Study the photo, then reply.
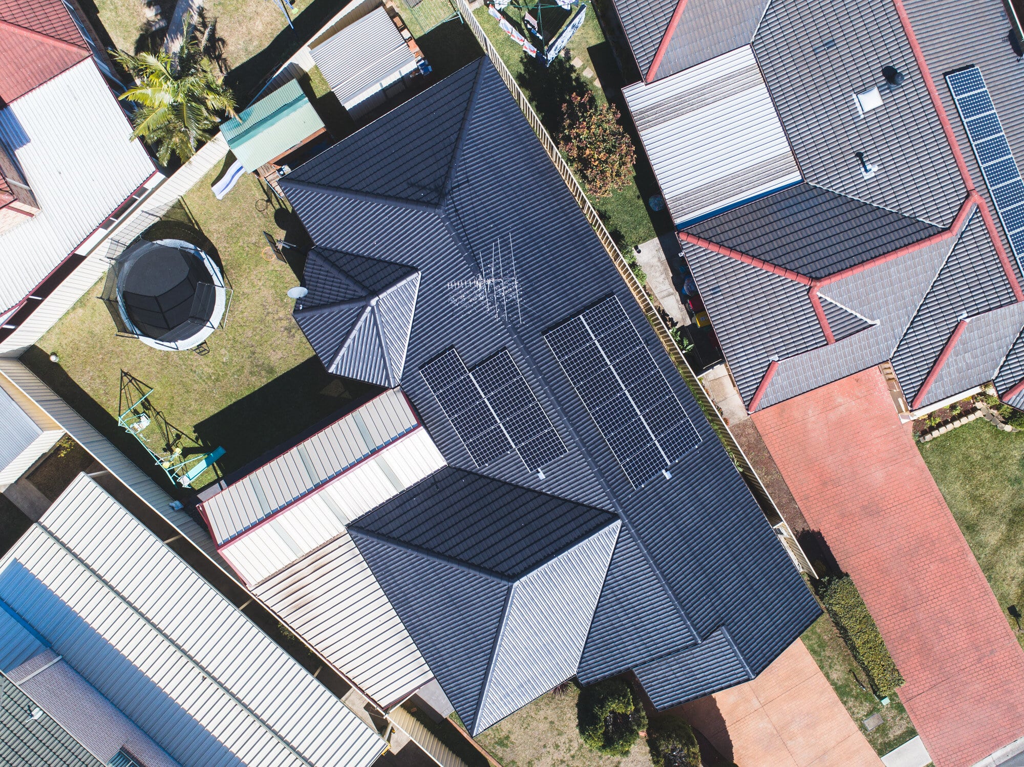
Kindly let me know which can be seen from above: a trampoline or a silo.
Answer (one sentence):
Looking from above, you can make out a trampoline.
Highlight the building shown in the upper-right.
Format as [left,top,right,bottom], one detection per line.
[606,0,1024,413]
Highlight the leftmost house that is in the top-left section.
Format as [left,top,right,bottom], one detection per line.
[0,145,42,237]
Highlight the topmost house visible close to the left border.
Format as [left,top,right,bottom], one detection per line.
[0,0,168,121]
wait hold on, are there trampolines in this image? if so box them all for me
[88,230,235,354]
